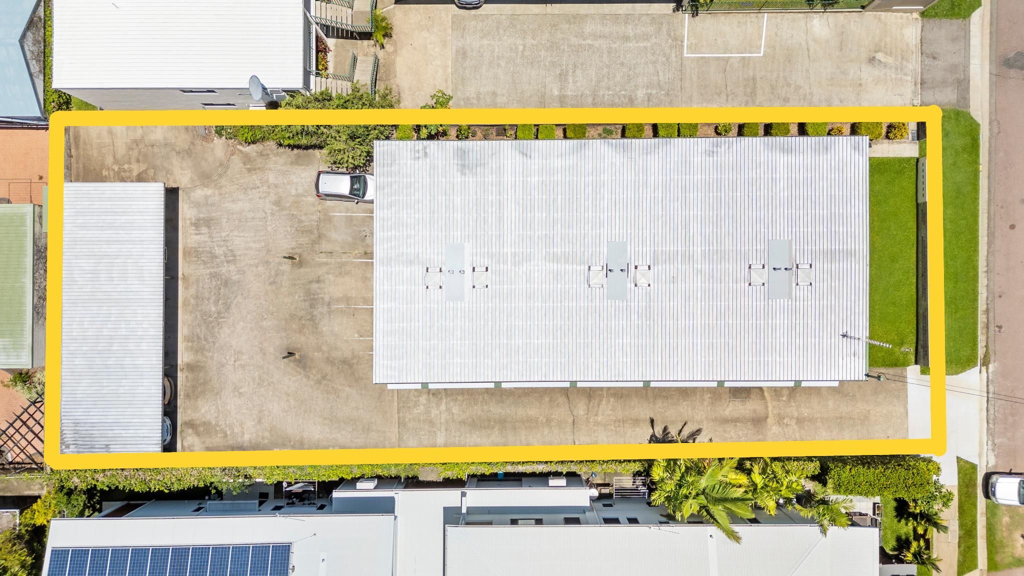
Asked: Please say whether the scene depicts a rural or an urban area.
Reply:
urban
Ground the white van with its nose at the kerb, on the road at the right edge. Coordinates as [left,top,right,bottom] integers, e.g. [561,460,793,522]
[985,470,1024,510]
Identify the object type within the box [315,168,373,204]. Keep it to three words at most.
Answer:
car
